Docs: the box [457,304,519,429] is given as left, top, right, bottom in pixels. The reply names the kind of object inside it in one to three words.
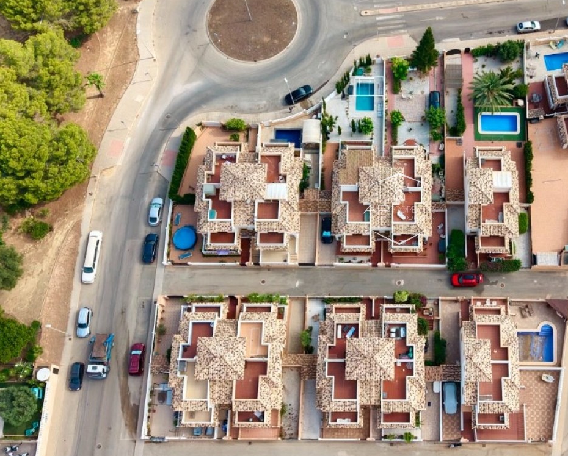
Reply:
house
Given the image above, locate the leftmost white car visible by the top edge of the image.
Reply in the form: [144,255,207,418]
[515,18,541,33]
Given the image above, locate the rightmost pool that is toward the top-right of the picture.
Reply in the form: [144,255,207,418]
[544,52,568,72]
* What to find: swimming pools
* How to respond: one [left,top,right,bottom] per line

[355,81,376,111]
[478,111,520,135]
[544,52,568,72]
[274,128,303,148]
[172,226,199,252]
[515,322,555,364]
